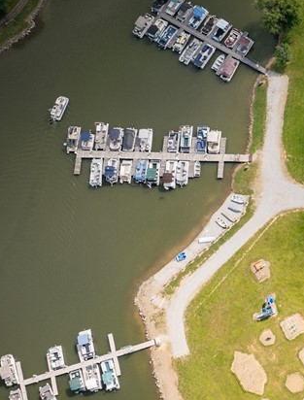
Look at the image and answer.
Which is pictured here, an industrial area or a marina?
marina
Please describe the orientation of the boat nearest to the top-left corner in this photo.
diagonally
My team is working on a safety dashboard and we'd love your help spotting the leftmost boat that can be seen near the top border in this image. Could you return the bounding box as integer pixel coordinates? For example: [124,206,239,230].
[132,13,155,40]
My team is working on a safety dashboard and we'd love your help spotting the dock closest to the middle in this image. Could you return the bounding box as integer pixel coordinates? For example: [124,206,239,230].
[74,134,252,178]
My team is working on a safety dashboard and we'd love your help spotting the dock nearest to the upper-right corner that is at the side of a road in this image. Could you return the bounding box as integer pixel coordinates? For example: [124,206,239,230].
[145,0,271,77]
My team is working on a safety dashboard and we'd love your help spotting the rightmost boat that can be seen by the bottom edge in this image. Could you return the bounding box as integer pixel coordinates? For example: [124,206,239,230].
[101,359,119,392]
